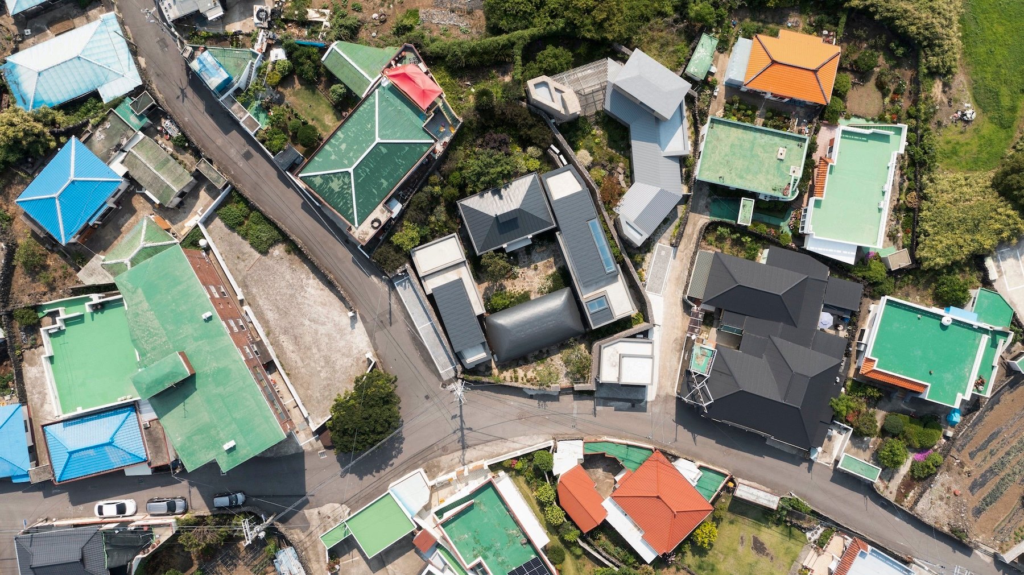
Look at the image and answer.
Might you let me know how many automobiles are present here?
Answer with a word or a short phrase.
3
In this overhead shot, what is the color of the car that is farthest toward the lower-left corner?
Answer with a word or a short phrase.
white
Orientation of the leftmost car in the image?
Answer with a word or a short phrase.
horizontally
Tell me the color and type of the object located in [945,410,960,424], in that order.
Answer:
blue umbrella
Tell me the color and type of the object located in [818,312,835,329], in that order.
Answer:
white umbrella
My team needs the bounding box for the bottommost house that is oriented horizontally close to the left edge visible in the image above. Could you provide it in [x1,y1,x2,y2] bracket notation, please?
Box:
[13,523,120,575]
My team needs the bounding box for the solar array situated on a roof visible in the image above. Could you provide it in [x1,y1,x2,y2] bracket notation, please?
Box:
[508,554,547,575]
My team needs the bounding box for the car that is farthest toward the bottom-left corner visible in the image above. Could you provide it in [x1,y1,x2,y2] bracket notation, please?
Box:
[94,496,139,517]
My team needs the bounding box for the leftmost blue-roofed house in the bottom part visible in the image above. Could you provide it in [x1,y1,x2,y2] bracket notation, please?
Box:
[0,403,42,476]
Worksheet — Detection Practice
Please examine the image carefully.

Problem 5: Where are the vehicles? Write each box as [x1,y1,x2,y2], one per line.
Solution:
[212,489,247,509]
[145,494,190,516]
[94,496,139,517]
